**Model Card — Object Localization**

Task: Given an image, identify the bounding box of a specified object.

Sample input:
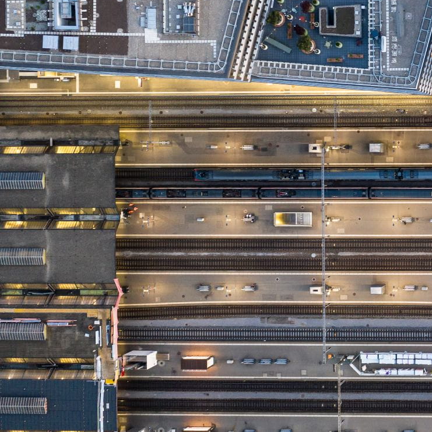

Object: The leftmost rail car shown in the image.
[117,187,155,199]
